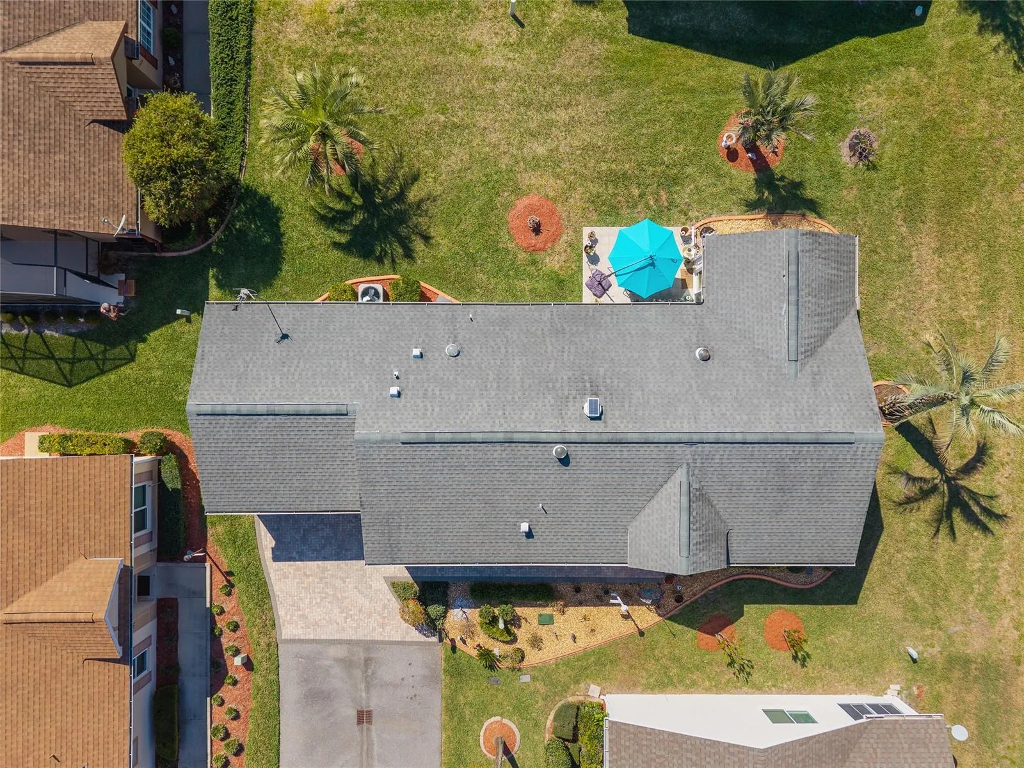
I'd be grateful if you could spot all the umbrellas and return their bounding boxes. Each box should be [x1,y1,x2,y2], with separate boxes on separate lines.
[584,218,684,299]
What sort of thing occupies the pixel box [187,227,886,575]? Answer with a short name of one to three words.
house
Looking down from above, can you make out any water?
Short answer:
No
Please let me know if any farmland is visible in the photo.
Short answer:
No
